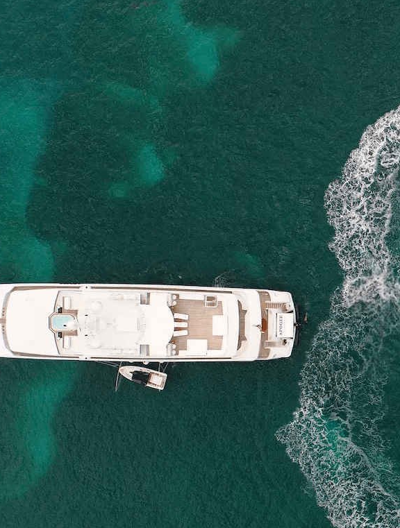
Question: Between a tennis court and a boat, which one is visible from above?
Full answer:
Of the two, only a boat appears.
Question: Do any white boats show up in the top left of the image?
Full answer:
No, I can find no white boat in the top left of the image.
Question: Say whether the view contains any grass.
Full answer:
No, there's no grass in this view.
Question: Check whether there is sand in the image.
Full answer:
No, the scene doesn't show any sand.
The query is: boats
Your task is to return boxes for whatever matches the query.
[119,365,167,394]
[0,283,307,392]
